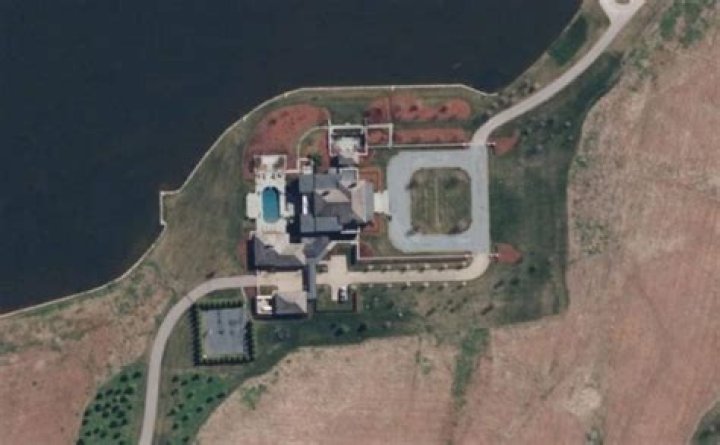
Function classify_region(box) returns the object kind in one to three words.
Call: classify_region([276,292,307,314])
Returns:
building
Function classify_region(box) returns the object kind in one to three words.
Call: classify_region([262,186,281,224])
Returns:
swimming pool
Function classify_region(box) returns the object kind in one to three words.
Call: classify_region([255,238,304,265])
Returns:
building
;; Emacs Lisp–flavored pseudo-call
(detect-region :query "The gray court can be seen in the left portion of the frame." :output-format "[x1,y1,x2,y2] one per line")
[203,307,247,359]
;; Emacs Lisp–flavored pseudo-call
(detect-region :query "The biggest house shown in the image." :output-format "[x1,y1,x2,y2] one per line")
[298,168,374,233]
